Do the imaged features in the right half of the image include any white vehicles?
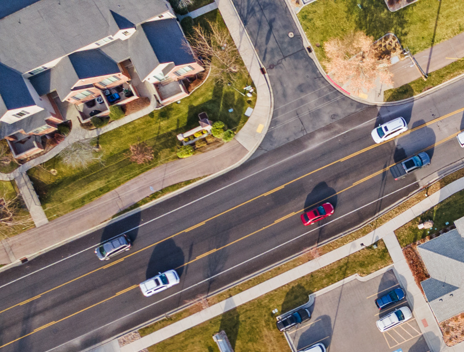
Yes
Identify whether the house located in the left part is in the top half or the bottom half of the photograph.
top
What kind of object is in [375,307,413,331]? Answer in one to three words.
car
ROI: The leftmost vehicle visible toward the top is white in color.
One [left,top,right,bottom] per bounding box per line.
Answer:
[372,118,408,143]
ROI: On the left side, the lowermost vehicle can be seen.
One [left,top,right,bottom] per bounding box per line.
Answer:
[138,270,180,296]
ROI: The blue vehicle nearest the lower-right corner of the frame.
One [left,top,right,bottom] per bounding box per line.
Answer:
[373,287,407,309]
